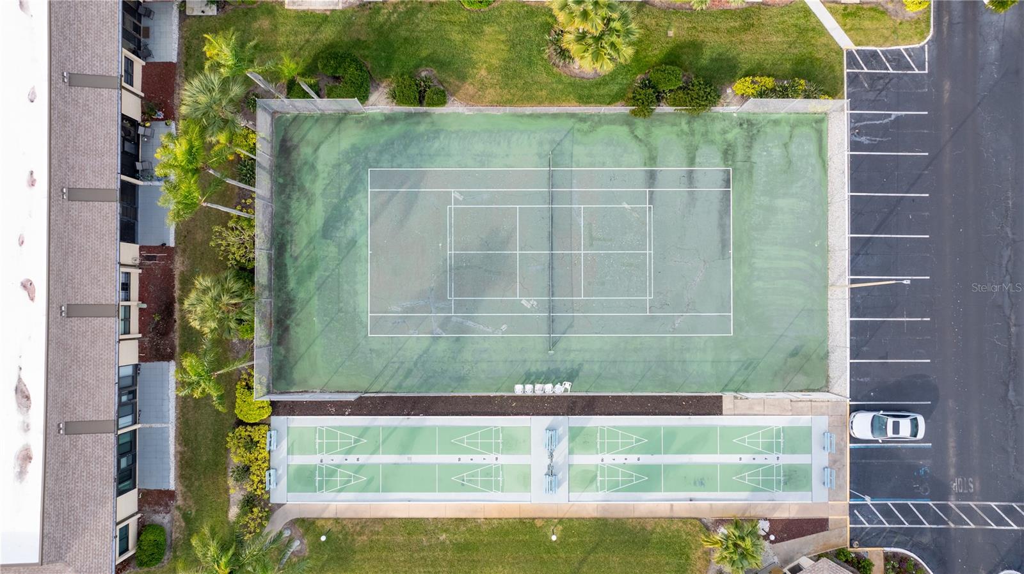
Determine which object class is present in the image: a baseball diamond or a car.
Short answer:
car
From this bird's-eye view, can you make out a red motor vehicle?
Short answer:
No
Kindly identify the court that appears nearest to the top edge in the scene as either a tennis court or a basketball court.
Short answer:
tennis court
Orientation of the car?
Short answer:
from left to right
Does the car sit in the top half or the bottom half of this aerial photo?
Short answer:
bottom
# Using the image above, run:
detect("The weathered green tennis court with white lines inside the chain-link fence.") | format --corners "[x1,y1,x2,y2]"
[272,113,828,393]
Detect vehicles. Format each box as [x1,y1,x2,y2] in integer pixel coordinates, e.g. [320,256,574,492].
[848,409,925,444]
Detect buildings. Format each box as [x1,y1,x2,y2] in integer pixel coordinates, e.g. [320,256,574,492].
[805,559,851,574]
[0,0,145,574]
